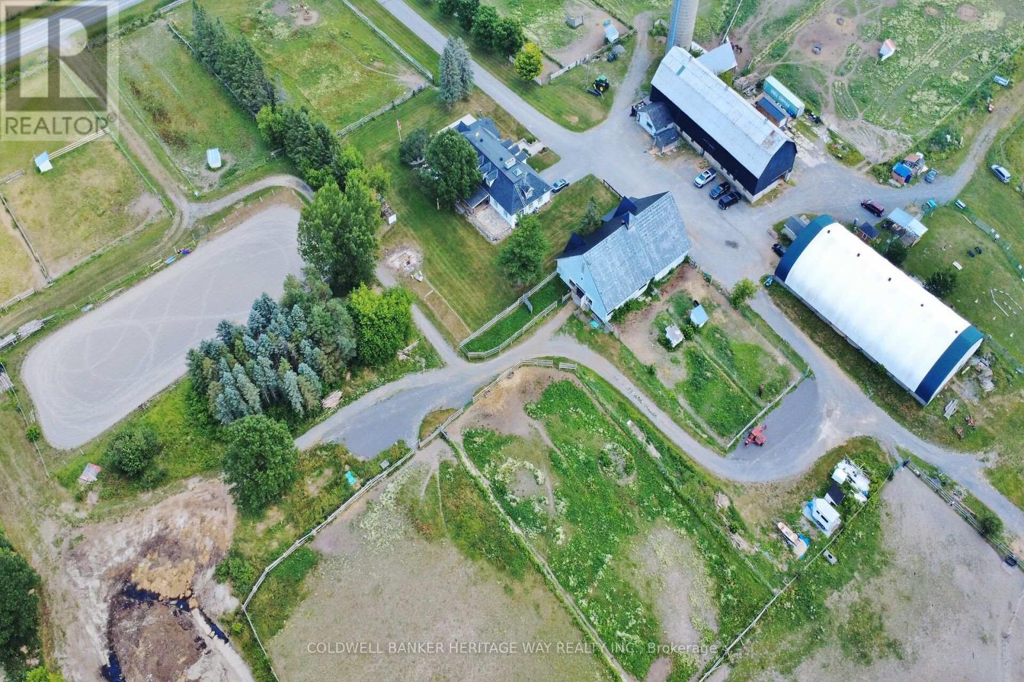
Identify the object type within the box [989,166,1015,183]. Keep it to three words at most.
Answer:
vehicle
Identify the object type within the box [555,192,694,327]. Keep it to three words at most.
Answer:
barn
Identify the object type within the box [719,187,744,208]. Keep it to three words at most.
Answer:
car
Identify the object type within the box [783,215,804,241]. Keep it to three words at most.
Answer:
shed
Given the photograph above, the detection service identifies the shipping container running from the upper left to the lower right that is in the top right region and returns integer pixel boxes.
[763,74,805,117]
